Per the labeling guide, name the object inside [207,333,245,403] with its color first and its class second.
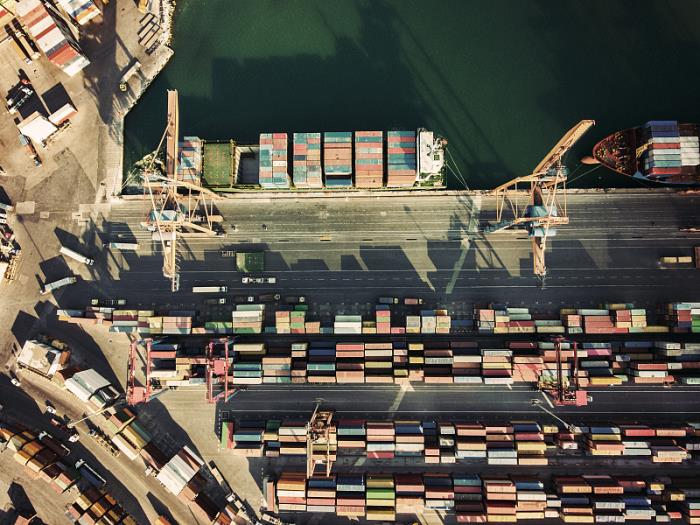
red container crane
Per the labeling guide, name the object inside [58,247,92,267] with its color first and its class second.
white vehicle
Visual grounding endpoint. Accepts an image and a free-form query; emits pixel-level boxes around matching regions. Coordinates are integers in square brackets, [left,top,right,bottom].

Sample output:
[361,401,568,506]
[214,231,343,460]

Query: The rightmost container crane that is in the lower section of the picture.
[537,332,581,404]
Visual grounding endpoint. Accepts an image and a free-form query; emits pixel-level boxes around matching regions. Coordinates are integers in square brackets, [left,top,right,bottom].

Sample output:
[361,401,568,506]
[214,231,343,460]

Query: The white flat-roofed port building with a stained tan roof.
[18,340,66,377]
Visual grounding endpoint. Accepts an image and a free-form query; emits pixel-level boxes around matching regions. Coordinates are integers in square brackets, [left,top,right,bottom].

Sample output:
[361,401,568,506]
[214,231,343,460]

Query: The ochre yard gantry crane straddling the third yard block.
[305,400,338,478]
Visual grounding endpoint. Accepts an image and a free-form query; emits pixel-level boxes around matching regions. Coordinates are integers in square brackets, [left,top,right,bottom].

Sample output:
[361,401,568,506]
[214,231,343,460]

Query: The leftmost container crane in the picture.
[129,334,173,404]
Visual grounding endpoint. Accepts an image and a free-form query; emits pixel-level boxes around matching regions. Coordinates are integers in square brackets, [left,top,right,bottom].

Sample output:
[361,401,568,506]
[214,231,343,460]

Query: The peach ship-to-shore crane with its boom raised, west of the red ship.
[487,113,590,273]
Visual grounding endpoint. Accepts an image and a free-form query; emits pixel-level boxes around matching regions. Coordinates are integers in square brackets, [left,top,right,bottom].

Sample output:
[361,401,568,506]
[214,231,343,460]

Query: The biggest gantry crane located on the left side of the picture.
[144,93,228,296]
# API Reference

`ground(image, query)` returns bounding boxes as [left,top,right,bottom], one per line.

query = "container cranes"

[305,400,338,478]
[207,333,245,403]
[144,93,228,296]
[537,332,581,404]
[487,113,590,273]
[129,334,173,404]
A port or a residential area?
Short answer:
port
